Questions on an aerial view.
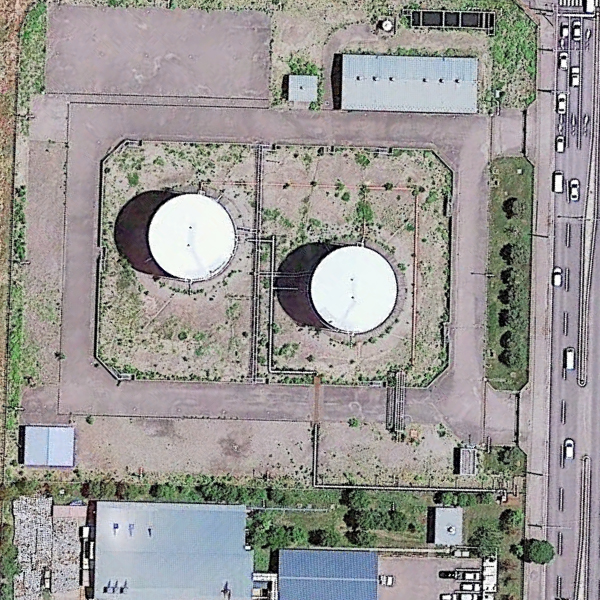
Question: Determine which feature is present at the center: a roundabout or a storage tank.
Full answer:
The one visible at the center is a storage tank.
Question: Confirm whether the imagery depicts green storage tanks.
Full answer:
No, I find no green storage tank anywhere in the image.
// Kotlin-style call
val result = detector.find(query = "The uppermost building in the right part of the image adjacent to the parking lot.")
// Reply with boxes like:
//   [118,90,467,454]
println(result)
[435,507,462,545]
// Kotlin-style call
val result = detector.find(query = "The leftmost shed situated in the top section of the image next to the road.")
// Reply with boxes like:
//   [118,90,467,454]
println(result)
[289,74,317,102]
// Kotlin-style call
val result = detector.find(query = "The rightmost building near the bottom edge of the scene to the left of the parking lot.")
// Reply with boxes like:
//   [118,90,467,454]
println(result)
[278,549,378,600]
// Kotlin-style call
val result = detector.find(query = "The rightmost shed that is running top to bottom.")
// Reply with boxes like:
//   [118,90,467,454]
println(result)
[483,558,497,592]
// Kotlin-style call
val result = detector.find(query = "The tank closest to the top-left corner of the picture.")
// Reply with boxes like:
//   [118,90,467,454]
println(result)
[144,188,243,286]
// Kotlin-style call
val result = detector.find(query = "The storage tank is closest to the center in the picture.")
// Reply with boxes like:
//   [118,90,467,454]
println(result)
[304,240,403,338]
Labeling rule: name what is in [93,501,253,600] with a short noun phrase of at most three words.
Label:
building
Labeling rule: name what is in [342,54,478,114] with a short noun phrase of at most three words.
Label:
building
